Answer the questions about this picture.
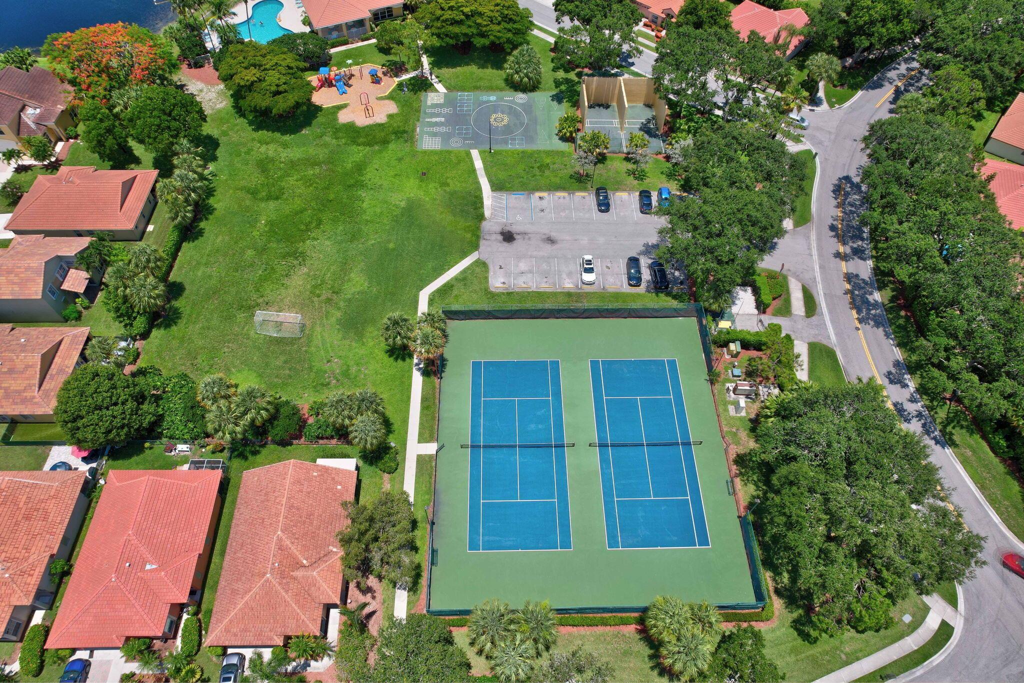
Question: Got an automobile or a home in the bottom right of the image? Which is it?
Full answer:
The one visible in the bottom right of the image is an automobile.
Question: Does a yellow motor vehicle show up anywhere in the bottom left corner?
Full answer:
No, in the bottom left corner there is no yellow motor vehicle.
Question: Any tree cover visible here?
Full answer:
Yes, some tree cover is visible.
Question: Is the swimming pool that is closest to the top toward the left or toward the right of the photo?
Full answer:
The swimming pool that is closest to the top is on the left side of the image.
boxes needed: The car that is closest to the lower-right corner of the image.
[1000,551,1024,576]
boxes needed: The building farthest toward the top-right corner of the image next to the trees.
[984,90,1024,169]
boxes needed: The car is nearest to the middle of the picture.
[581,255,599,285]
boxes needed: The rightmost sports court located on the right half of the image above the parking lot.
[583,77,666,152]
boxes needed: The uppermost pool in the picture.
[202,0,316,52]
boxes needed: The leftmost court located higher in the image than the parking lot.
[417,92,568,149]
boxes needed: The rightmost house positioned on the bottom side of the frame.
[203,457,358,647]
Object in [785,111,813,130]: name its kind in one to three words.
car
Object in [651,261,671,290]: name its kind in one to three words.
car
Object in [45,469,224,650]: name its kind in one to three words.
house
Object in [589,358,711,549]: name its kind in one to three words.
tennis court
